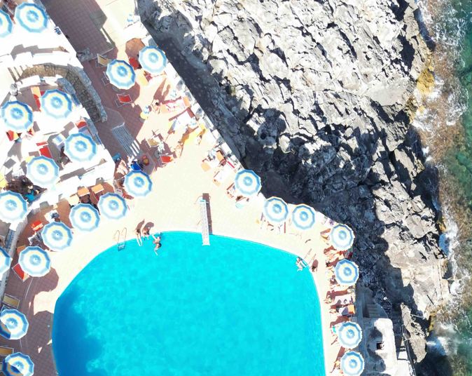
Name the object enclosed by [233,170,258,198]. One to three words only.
umbrella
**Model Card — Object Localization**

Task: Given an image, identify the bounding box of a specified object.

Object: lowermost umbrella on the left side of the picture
[0,352,34,376]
